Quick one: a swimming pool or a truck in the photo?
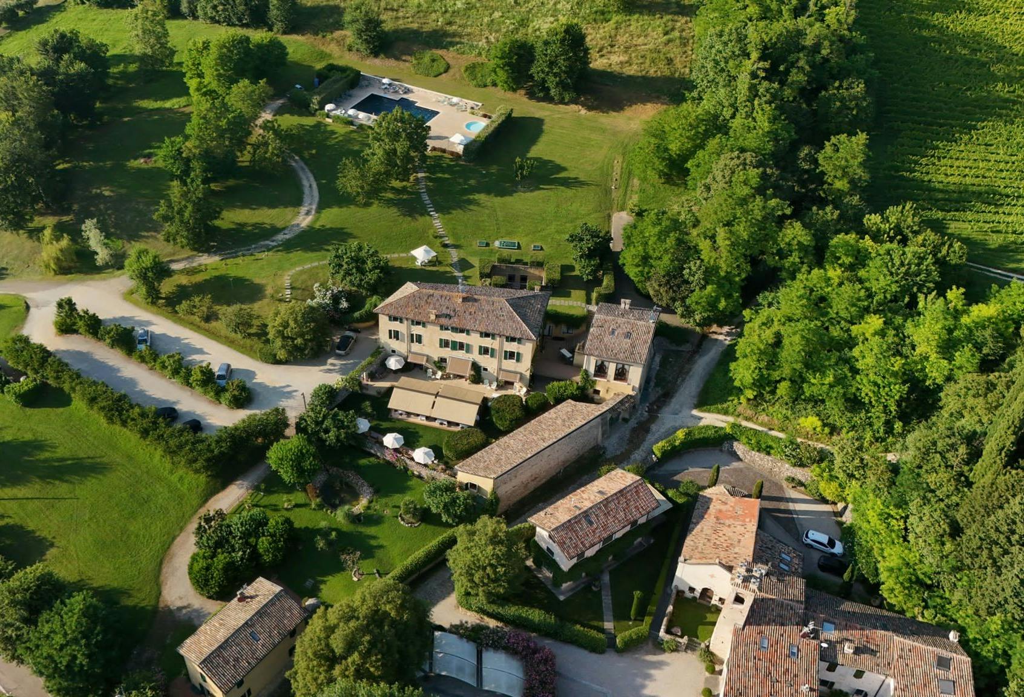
swimming pool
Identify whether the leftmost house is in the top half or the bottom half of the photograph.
bottom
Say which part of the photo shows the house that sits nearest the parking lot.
center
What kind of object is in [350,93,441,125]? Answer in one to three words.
swimming pool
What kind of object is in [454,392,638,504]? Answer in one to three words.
barn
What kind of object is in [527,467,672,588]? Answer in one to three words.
house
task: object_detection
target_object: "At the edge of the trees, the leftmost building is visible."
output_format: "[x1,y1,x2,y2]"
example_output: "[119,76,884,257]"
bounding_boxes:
[176,575,310,697]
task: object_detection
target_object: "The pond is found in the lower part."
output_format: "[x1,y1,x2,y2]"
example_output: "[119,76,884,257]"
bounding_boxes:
[312,465,369,513]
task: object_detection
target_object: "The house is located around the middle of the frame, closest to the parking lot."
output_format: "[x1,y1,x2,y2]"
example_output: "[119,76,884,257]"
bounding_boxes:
[373,277,551,389]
